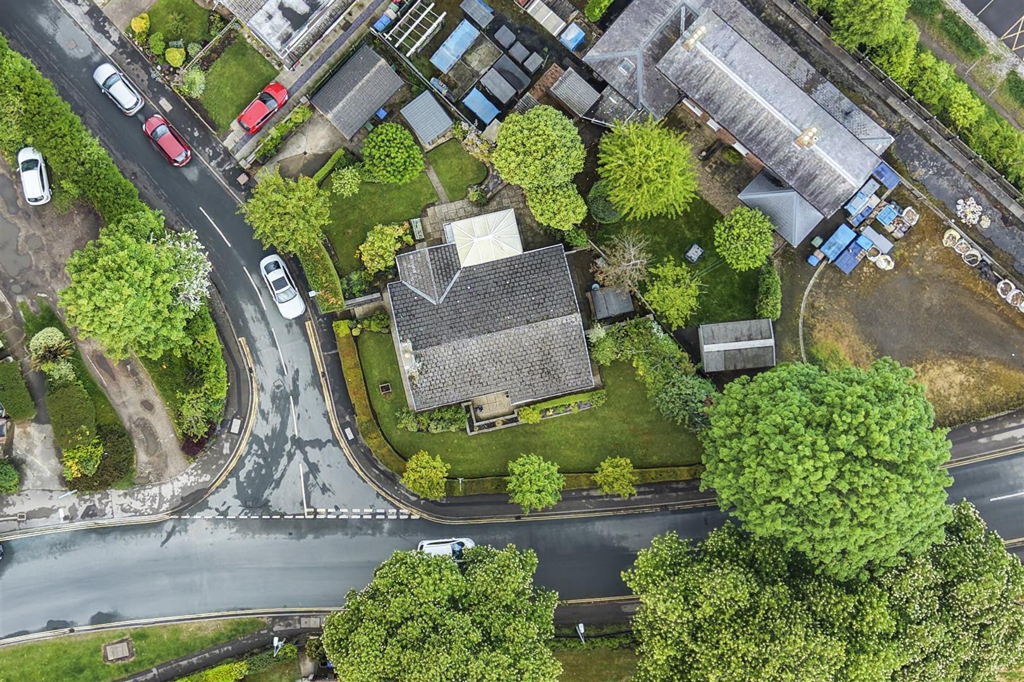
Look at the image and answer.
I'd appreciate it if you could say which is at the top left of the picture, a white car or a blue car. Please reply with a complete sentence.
You can see a white car at the top left of the picture.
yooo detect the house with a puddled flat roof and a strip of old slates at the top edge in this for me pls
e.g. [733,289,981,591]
[219,0,359,72]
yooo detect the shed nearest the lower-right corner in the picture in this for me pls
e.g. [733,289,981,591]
[699,319,776,372]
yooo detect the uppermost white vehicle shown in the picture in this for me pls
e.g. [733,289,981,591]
[92,61,145,117]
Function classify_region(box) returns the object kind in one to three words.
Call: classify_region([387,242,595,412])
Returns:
house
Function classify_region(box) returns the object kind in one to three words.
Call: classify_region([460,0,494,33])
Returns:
shed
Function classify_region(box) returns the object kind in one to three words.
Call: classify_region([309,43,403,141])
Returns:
building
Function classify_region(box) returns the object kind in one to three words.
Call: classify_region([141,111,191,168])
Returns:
car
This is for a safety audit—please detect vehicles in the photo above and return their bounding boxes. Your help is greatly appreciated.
[262,252,302,321]
[417,537,476,564]
[141,111,191,168]
[92,61,145,117]
[237,80,289,134]
[14,146,51,206]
